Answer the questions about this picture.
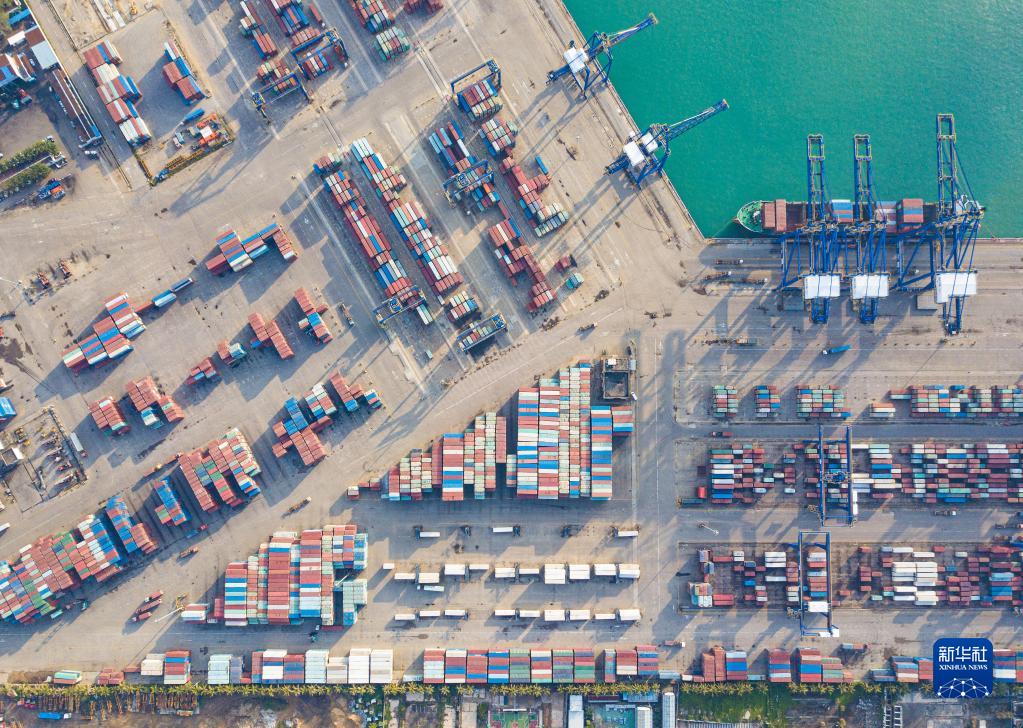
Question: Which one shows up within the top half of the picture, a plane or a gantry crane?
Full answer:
There is a gantry crane within the top half of the picture.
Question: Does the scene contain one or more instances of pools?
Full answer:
No, I can see no pool in this picture.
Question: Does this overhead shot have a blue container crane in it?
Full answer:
Yes, a blue container crane is visible in the scene.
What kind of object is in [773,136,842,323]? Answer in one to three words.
container crane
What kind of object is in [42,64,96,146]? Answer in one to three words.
building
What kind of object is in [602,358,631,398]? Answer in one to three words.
building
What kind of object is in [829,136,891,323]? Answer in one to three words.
container crane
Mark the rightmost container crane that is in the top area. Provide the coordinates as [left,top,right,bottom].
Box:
[893,115,987,334]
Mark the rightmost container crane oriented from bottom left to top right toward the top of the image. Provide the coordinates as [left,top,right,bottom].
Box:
[603,97,732,194]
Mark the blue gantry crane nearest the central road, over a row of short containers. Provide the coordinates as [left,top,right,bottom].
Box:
[459,315,506,354]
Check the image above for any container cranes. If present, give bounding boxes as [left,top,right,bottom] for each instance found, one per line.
[780,534,844,642]
[800,426,856,530]
[829,136,891,323]
[603,97,732,194]
[544,12,660,104]
[453,60,499,111]
[291,31,344,82]
[377,291,426,330]
[893,115,987,334]
[773,136,842,323]
[257,73,313,122]
[459,315,506,354]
